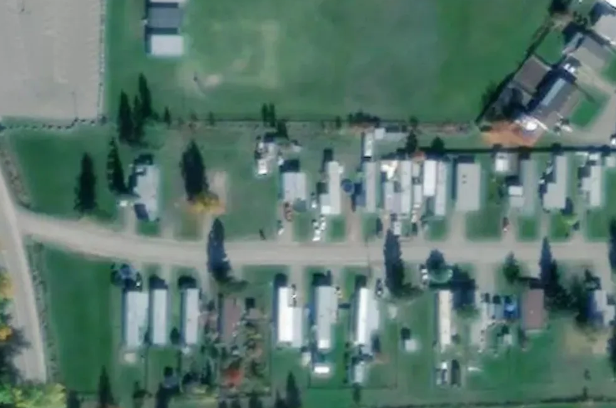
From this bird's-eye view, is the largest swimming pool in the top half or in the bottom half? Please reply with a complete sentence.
It is in the bottom half that the largest swimming pool appears.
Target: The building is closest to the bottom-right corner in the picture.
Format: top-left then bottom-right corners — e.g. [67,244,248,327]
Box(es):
[591,290,615,326]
